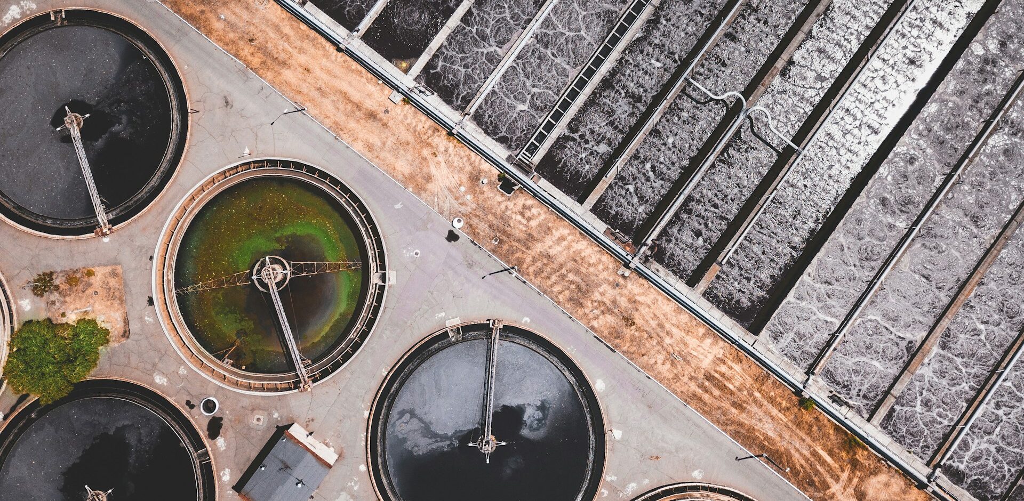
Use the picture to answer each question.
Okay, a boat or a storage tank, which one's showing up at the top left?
storage tank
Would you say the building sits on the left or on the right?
left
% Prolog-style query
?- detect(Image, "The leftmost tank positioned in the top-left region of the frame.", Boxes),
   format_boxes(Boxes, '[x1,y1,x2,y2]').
[0,7,193,238]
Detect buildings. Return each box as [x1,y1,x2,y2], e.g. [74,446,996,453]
[235,421,340,501]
